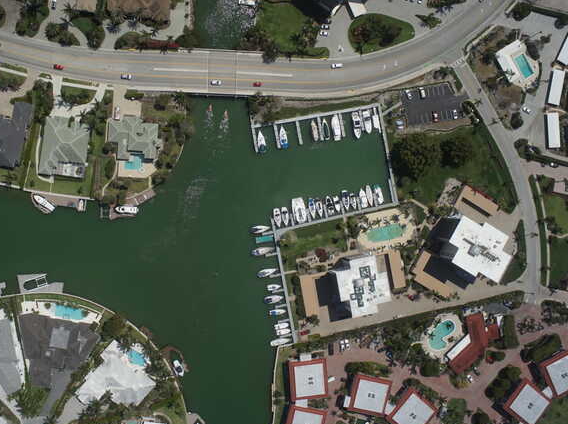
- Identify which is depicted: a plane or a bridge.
bridge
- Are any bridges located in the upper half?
Yes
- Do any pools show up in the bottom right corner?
Yes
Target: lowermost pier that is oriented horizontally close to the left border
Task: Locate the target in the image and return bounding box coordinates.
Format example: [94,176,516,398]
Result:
[17,273,63,293]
